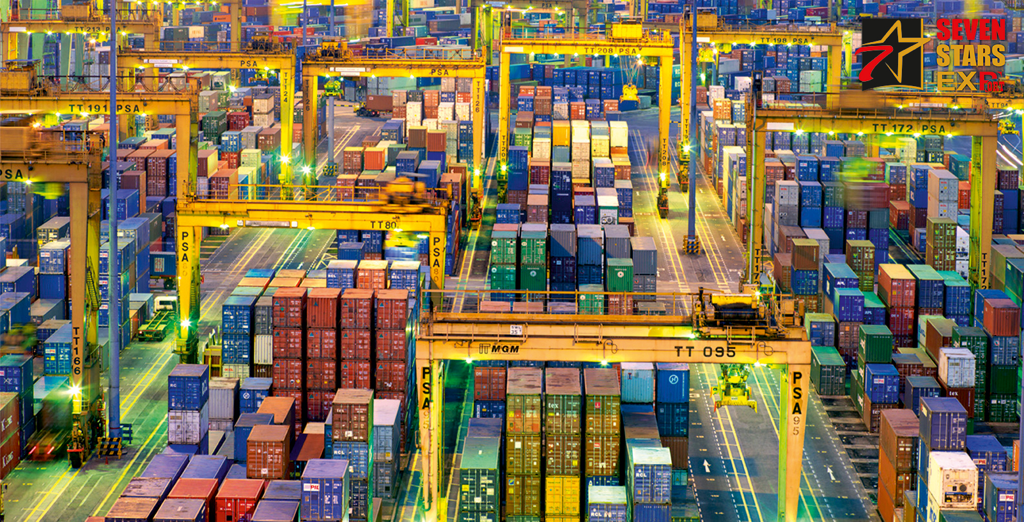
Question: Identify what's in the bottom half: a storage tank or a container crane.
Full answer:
The one visible in the bottom half is a container crane.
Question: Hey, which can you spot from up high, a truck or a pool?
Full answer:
The image shows a truck.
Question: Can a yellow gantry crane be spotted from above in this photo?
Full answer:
Yes, a yellow gantry crane can be made out from above.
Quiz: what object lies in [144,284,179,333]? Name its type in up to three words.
truck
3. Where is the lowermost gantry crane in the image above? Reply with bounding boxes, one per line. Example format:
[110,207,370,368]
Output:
[418,294,820,522]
